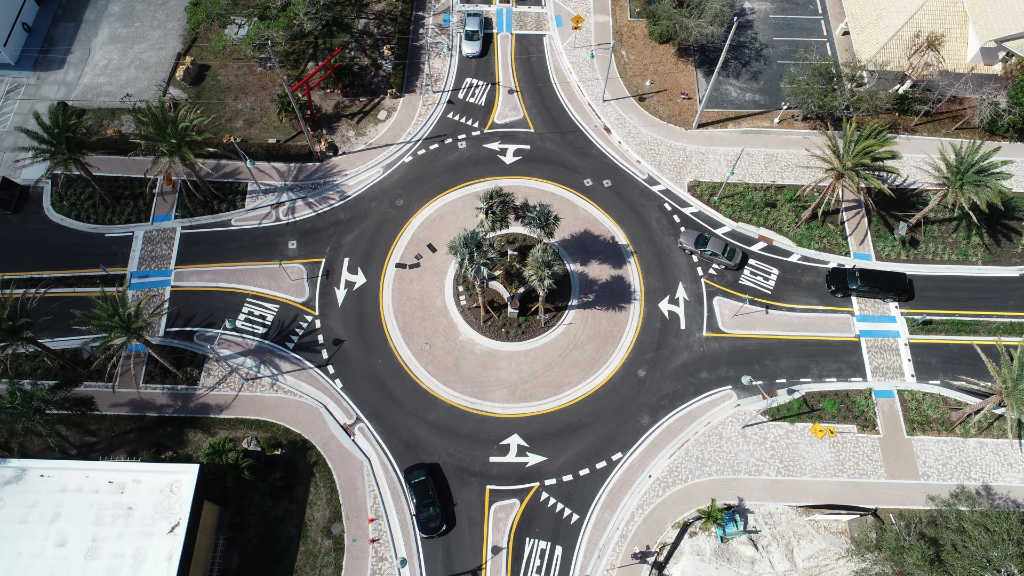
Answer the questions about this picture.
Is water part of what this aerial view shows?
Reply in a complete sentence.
No, the picture contains no water.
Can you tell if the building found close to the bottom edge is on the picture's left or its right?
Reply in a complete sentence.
The building found close to the bottom edge appears in the left half of the scene.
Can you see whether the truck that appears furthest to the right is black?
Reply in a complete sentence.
Yes, the truck that appears furthest to the right is black.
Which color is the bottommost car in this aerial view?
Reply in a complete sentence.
The color of the bottommost car is black.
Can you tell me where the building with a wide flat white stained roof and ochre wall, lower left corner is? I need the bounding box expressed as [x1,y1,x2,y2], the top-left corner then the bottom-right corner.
[0,459,230,576]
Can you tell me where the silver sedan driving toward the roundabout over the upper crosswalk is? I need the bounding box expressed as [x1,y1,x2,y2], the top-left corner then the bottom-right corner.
[460,11,486,58]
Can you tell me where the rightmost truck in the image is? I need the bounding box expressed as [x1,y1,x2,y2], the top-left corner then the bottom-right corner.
[824,265,908,302]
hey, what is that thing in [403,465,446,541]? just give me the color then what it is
black car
